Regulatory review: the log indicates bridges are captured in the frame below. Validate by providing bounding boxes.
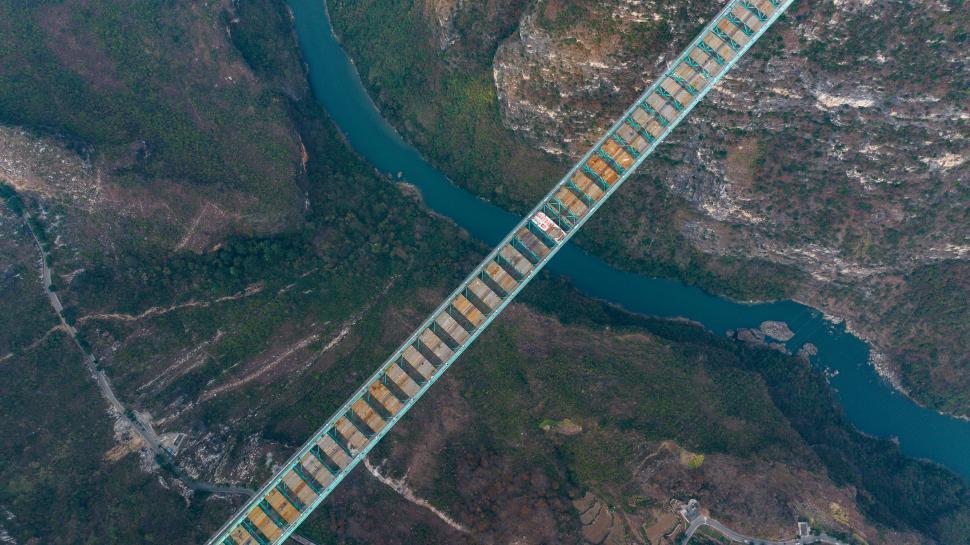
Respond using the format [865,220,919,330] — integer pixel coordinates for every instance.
[203,0,795,545]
